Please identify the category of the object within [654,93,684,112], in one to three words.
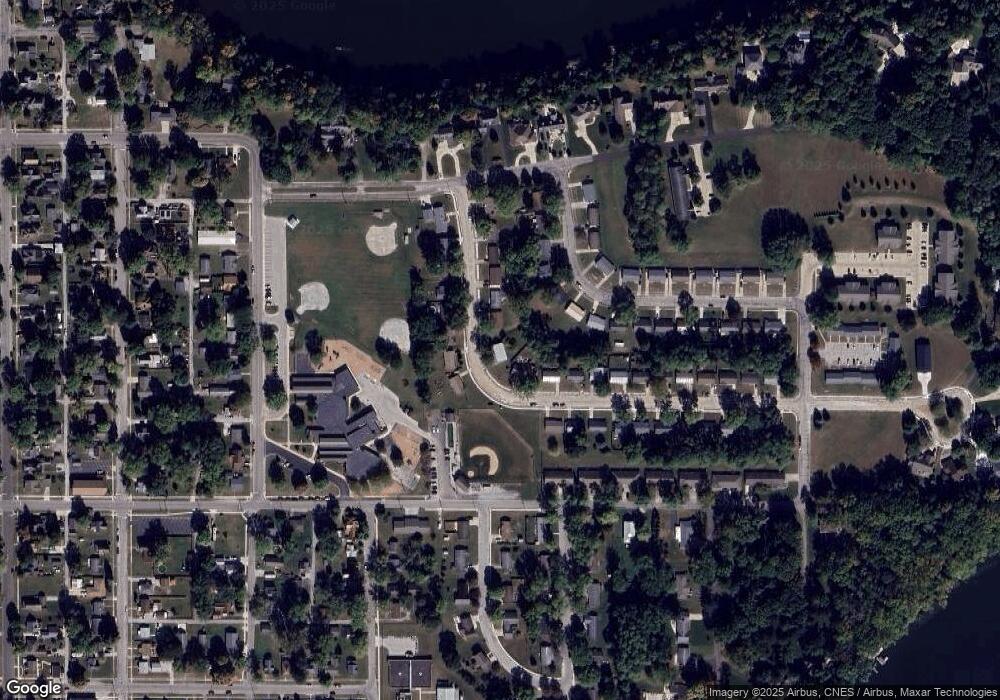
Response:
house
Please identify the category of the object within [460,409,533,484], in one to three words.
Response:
baseball field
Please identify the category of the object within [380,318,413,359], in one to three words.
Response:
baseball field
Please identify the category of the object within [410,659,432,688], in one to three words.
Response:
building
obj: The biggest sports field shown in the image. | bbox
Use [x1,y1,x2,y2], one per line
[266,201,423,362]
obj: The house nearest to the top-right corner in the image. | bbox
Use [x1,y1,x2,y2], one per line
[952,56,976,73]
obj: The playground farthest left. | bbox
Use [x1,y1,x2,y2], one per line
[313,340,386,380]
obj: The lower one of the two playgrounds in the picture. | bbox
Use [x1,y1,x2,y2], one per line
[389,424,422,465]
